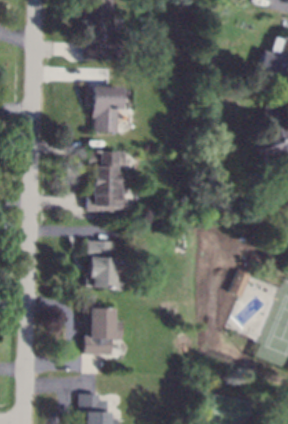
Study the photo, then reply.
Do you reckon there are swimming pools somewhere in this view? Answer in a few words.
Yes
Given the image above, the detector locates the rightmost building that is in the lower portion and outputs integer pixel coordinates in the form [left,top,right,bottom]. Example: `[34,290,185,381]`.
[229,269,250,298]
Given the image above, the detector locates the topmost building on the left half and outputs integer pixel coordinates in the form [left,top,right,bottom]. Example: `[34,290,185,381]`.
[93,85,129,134]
